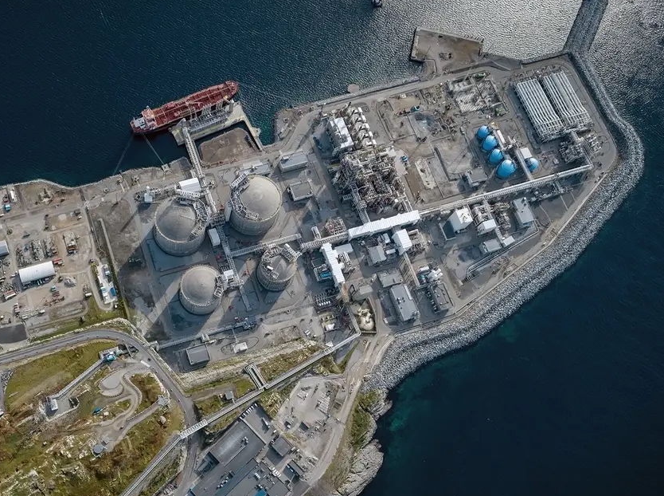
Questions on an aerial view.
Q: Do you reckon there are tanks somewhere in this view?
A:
Yes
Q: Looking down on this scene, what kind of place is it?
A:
port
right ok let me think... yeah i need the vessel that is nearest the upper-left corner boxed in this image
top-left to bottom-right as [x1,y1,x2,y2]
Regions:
[129,83,239,136]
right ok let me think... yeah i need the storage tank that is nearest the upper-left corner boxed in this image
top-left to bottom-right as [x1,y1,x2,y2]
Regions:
[152,194,207,257]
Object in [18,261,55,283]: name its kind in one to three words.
building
